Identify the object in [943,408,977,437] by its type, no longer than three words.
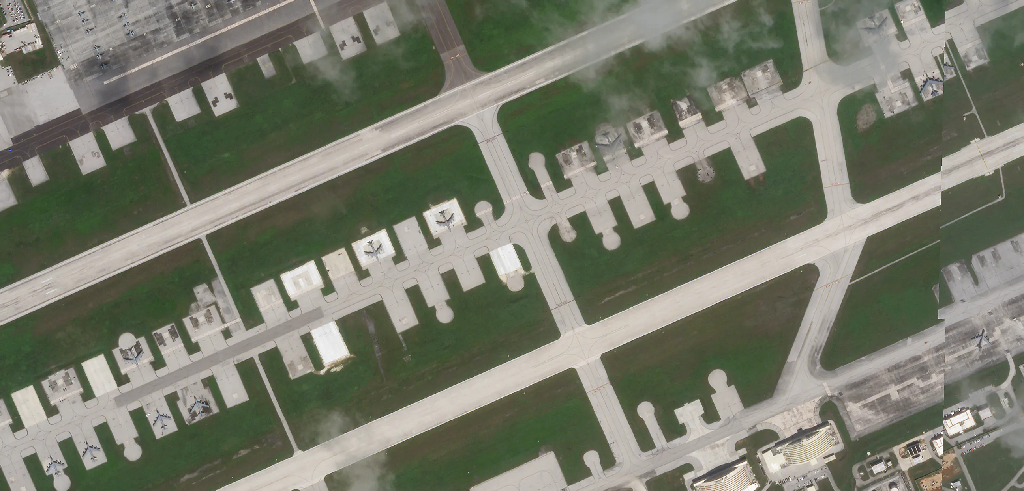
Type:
building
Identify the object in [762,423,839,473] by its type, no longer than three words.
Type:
hangar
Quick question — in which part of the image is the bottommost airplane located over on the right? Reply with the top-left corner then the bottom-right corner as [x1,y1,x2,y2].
[972,329,991,349]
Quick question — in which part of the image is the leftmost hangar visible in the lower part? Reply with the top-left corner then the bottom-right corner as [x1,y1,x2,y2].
[693,459,760,491]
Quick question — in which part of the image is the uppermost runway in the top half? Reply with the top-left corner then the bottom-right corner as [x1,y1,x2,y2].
[0,0,736,325]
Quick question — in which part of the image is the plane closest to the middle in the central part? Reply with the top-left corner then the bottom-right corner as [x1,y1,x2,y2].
[437,212,455,231]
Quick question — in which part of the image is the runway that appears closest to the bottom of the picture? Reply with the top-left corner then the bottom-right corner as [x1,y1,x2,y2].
[217,171,941,491]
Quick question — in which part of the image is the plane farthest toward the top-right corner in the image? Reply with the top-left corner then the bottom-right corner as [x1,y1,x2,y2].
[919,73,945,95]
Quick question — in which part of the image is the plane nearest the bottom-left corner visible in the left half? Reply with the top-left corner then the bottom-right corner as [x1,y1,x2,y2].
[46,456,64,476]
